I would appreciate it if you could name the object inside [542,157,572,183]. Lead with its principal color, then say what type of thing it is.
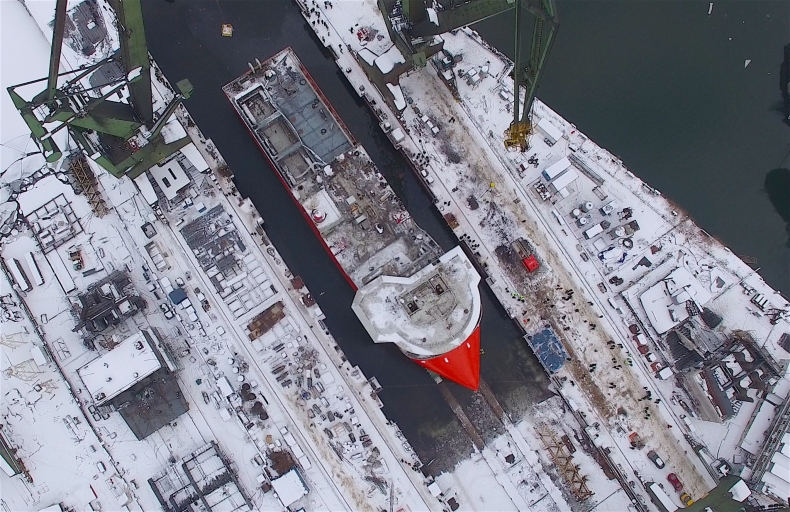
white shipping container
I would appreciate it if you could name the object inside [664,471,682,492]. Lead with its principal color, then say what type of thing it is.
red car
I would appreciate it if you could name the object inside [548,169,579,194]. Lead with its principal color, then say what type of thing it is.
white shipping container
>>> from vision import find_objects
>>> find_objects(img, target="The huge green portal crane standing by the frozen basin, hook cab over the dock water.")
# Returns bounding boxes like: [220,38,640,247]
[5,0,196,178]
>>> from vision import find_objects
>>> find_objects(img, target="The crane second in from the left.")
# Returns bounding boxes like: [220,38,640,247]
[357,0,559,157]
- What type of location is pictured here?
port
